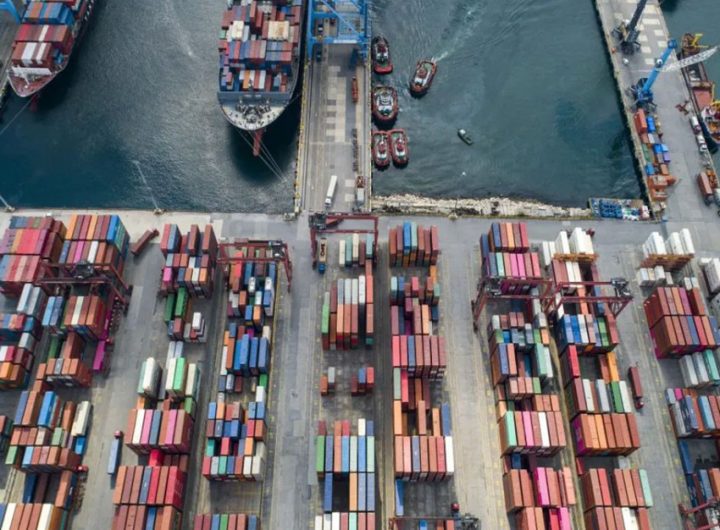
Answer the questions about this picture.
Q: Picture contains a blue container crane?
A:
Yes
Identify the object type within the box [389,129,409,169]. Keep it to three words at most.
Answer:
boat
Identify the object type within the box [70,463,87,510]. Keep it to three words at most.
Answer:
vehicle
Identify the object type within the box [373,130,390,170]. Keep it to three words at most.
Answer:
boat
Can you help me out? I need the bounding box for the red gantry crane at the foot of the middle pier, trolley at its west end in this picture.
[311,212,382,268]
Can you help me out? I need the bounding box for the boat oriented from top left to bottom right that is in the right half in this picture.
[457,130,472,145]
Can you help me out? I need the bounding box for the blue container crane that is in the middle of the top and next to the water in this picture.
[304,0,371,63]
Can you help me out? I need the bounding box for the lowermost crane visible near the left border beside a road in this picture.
[35,260,131,316]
